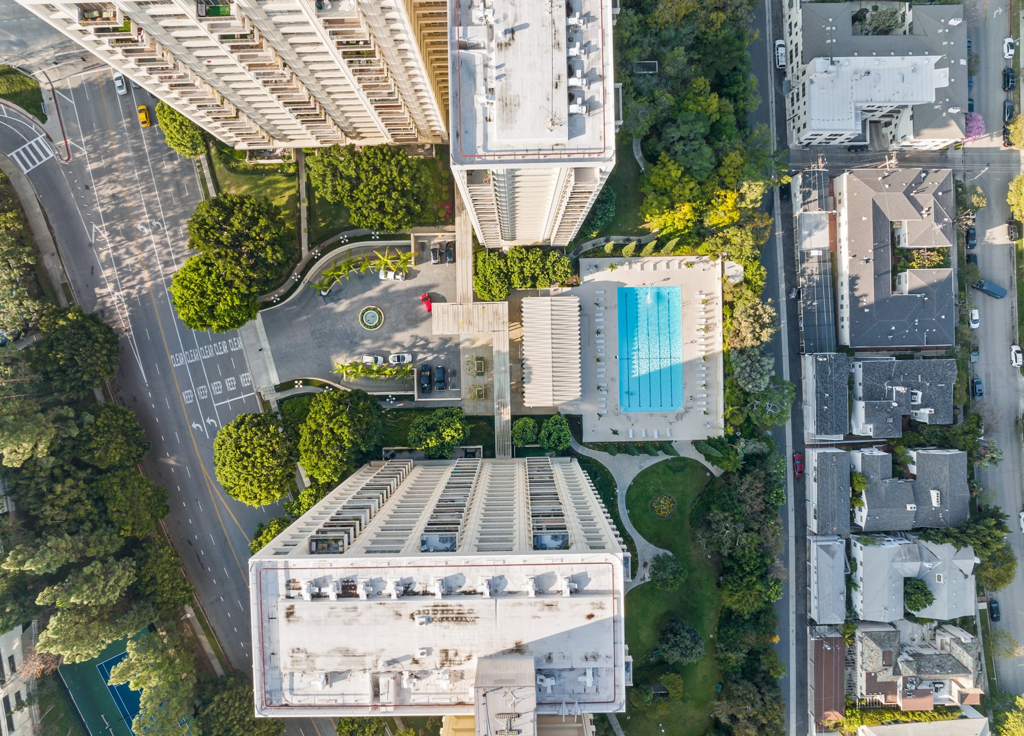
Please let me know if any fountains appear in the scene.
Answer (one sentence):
Yes, this view includes a fountain.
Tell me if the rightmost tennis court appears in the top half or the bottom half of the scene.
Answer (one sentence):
Seen from above, the rightmost tennis court lies in the bottom half of the view.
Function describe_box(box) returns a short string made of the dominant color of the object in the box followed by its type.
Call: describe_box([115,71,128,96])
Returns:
white vehicle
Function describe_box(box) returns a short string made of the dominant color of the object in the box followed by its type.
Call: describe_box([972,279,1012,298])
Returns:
blue vehicle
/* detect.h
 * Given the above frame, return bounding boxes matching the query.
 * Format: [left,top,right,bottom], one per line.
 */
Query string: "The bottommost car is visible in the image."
[987,598,1000,622]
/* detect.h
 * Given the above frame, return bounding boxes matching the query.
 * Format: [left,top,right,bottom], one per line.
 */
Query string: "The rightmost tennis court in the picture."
[96,647,188,736]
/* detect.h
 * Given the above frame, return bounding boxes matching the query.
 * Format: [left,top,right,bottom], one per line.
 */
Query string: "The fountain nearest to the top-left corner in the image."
[358,305,384,331]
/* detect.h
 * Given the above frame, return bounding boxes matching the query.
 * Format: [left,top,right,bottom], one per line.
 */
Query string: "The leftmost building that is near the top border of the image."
[31,0,626,253]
